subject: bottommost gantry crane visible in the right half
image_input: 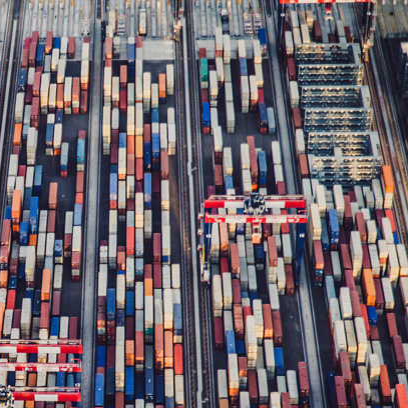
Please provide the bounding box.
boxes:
[196,193,305,283]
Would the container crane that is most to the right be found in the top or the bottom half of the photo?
top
